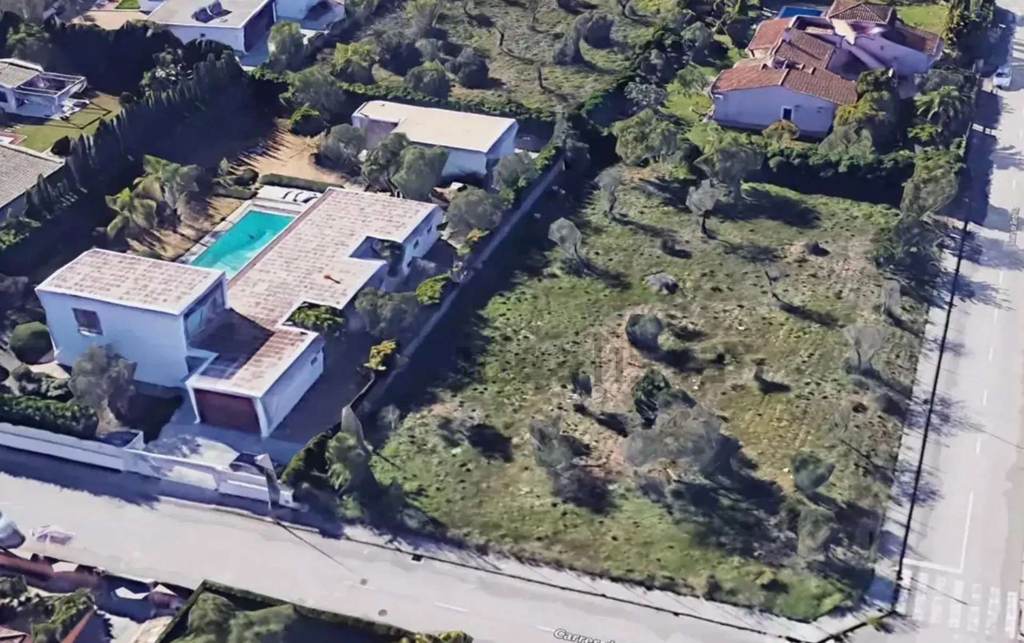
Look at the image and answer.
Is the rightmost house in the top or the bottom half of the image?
top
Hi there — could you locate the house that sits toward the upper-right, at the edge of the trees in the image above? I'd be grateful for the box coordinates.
[714,1,943,133]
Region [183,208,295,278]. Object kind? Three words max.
swimming pool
